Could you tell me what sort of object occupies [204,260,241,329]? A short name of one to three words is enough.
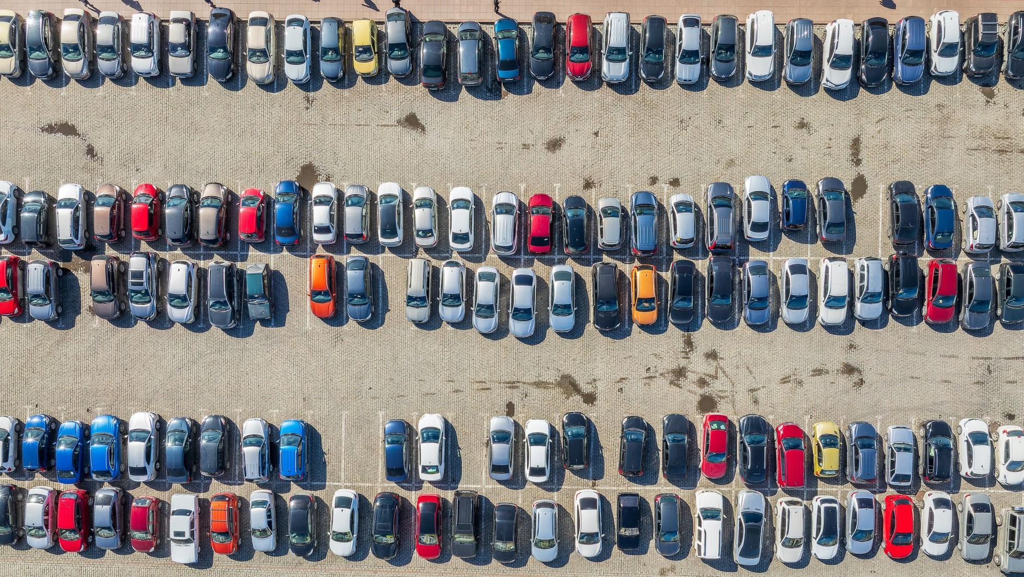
car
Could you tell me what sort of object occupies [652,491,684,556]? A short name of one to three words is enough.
car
